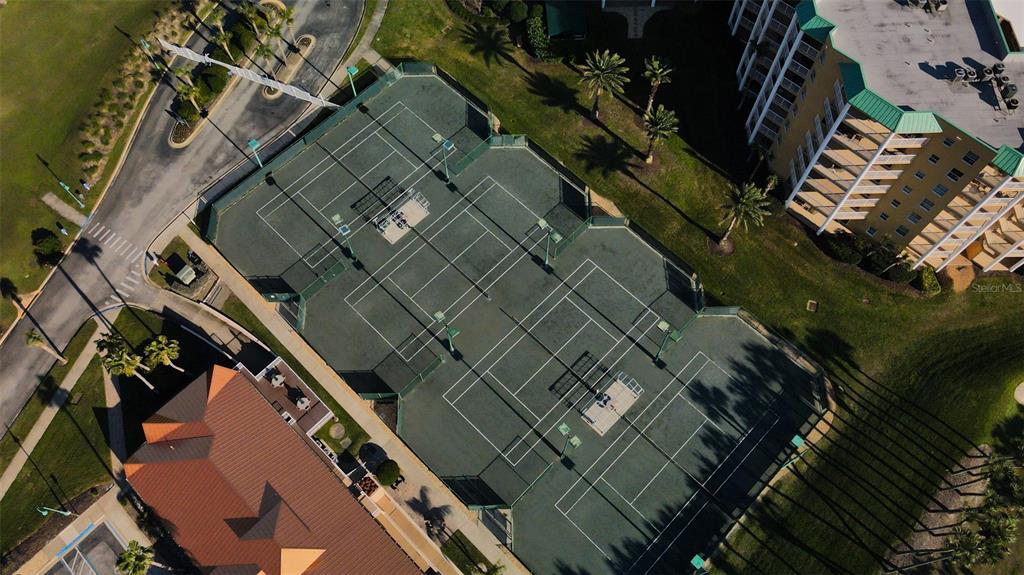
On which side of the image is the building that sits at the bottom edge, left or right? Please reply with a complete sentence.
You can find the building that sits at the bottom edge on the left side of the picture.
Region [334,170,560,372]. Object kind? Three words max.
tennis court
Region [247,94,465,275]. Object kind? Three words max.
tennis court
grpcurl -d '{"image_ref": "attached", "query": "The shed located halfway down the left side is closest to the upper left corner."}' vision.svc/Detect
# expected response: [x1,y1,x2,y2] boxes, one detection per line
[176,266,201,289]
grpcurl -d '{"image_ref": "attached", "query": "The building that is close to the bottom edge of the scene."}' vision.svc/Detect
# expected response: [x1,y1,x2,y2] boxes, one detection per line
[120,364,433,575]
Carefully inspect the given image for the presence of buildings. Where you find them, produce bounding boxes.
[176,266,201,289]
[120,364,433,575]
[725,0,1024,274]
